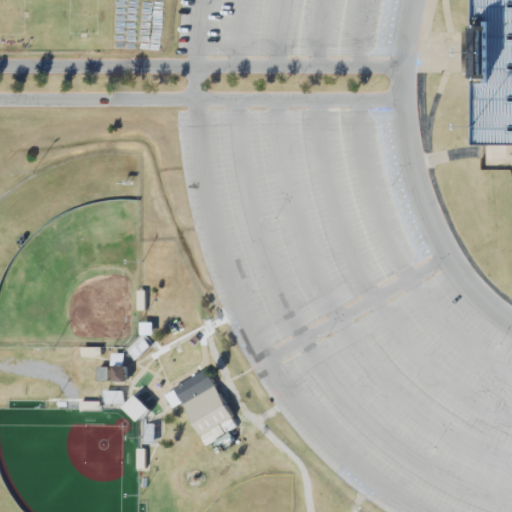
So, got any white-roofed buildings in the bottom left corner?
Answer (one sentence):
Yes, a white-roofed building can be seen in the bottom left corner.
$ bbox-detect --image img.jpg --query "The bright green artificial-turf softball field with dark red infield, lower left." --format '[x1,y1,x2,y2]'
[0,409,140,512]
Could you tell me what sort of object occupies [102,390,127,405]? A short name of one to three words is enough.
shed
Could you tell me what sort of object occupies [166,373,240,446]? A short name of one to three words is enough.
building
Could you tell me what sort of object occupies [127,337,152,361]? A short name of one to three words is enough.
building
